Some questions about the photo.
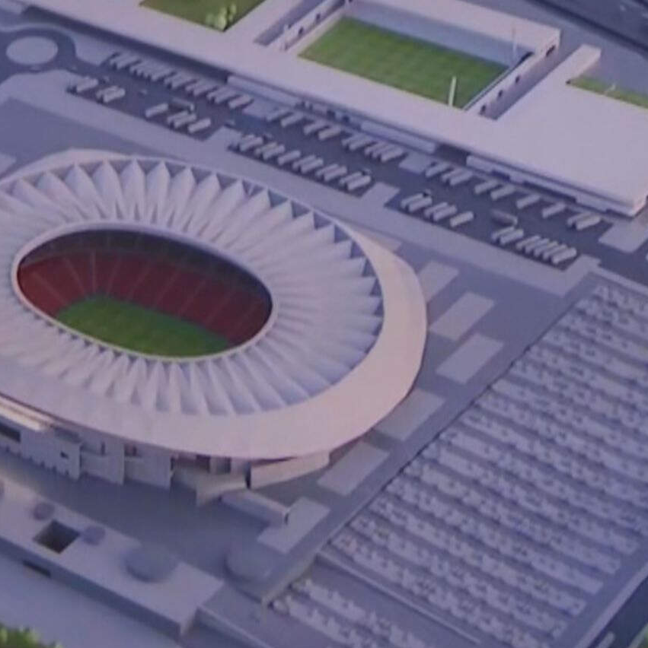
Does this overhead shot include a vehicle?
Yes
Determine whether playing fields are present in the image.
Yes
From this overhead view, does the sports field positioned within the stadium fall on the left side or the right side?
left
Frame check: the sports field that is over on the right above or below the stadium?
above it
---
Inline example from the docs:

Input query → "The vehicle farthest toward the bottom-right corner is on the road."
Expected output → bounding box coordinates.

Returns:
[592,629,618,648]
